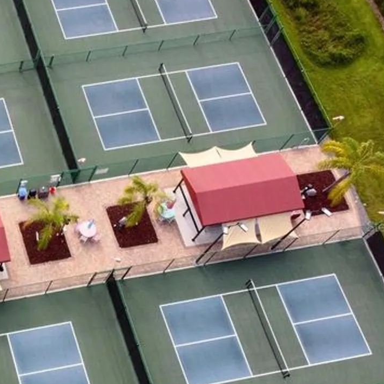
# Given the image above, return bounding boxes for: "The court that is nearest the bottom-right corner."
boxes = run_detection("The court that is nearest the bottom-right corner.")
[115,236,384,384]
